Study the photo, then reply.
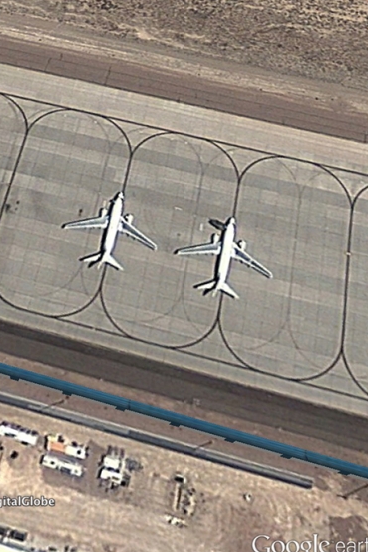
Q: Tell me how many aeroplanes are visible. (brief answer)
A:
2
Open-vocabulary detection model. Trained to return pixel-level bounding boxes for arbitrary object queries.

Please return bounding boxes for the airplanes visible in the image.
[178,217,276,300]
[63,190,157,271]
